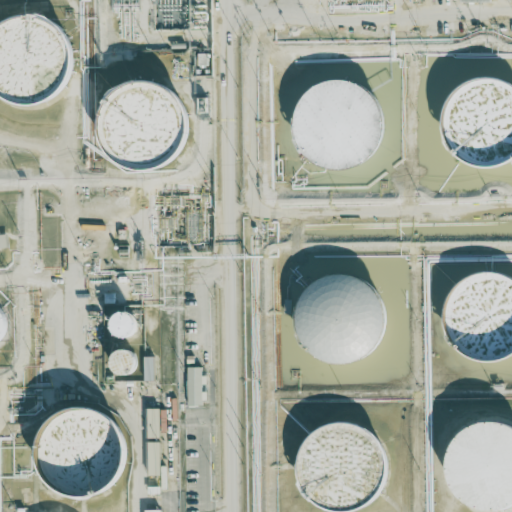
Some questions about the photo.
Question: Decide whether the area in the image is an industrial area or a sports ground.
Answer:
industrial area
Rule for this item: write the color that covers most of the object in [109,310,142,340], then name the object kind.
white storage tank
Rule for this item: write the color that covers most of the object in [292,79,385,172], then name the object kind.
white storage tank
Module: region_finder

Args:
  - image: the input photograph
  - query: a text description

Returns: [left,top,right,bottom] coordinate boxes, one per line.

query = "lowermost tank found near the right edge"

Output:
[442,419,512,512]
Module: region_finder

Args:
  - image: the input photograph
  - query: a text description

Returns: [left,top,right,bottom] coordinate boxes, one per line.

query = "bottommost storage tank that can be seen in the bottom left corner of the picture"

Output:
[32,404,129,498]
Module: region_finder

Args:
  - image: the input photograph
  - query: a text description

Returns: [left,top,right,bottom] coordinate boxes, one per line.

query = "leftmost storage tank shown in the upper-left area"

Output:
[0,10,74,107]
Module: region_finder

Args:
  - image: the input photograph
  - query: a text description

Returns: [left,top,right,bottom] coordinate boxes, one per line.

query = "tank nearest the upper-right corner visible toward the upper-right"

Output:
[438,76,512,170]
